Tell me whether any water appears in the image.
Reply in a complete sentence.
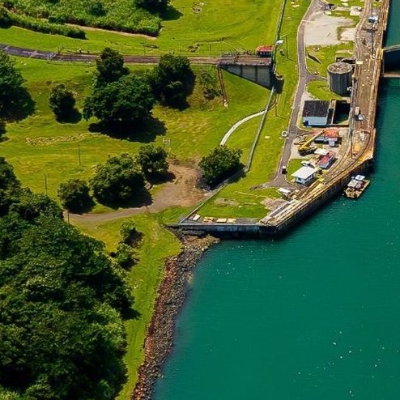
Yes, there's water in this view.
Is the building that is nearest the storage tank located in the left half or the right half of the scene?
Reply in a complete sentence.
The building that is nearest the storage tank appears in the right half of the scene.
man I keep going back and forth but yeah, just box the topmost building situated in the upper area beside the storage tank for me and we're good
[303,99,330,127]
